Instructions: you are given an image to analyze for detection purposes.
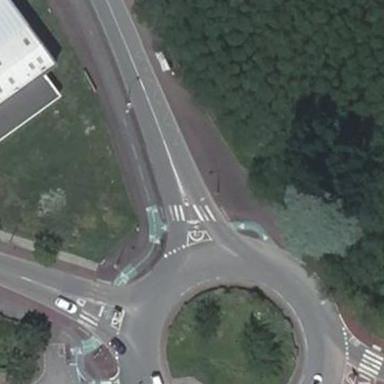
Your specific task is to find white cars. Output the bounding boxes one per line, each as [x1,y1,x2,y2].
[312,374,323,384]
[55,296,78,313]
[152,373,164,384]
